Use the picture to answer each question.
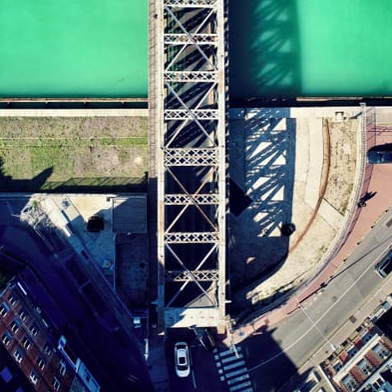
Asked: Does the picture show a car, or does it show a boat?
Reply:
car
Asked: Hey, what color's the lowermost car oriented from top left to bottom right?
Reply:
black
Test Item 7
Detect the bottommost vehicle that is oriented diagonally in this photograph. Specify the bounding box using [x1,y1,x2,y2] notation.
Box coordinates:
[191,327,217,356]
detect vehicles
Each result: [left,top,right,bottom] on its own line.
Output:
[174,343,190,380]
[368,148,392,164]
[191,327,217,356]
[374,245,392,277]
